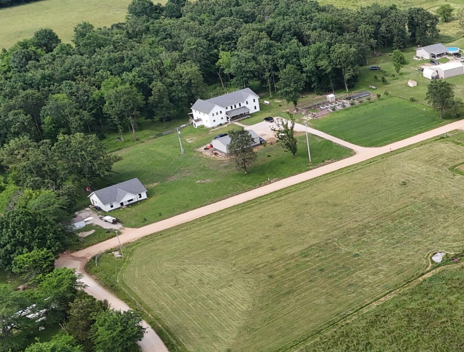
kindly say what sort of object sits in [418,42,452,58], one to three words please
house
